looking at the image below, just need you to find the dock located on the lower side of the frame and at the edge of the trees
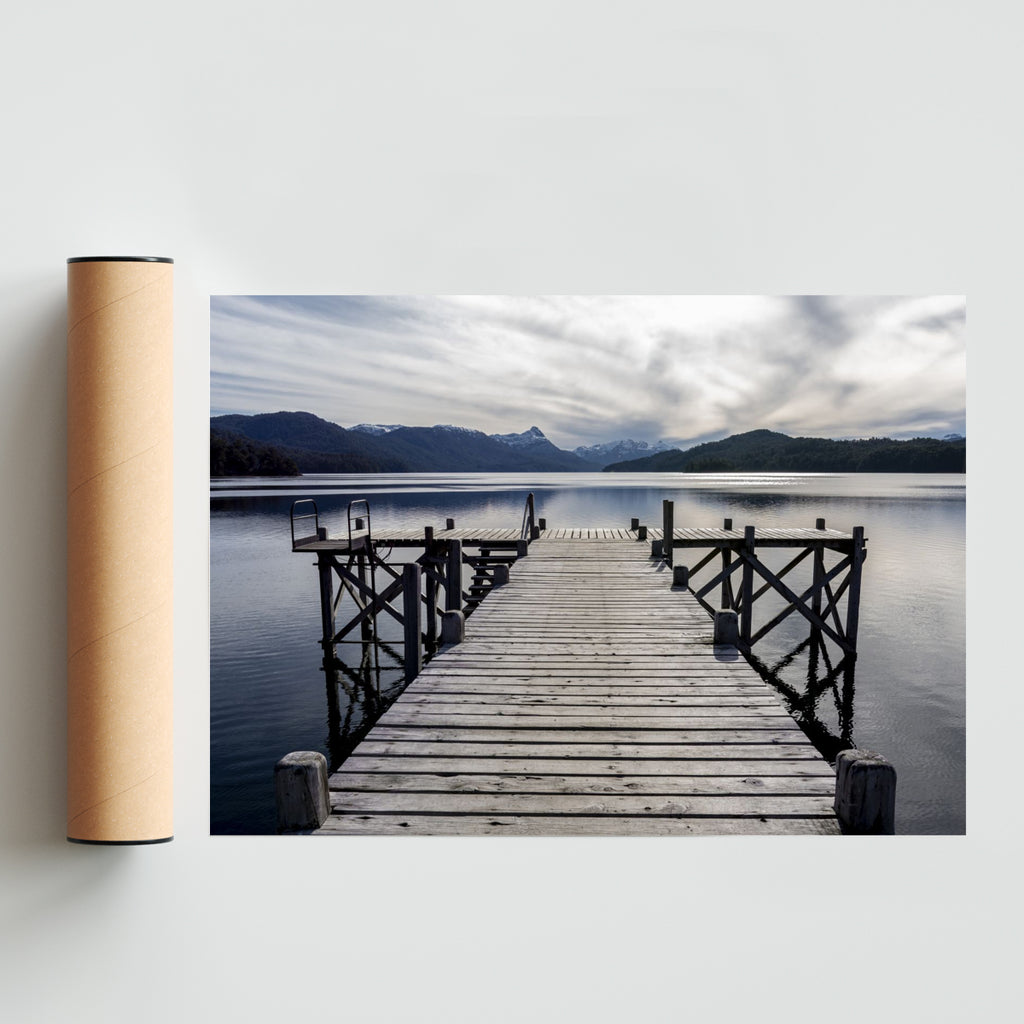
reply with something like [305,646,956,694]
[274,492,897,835]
